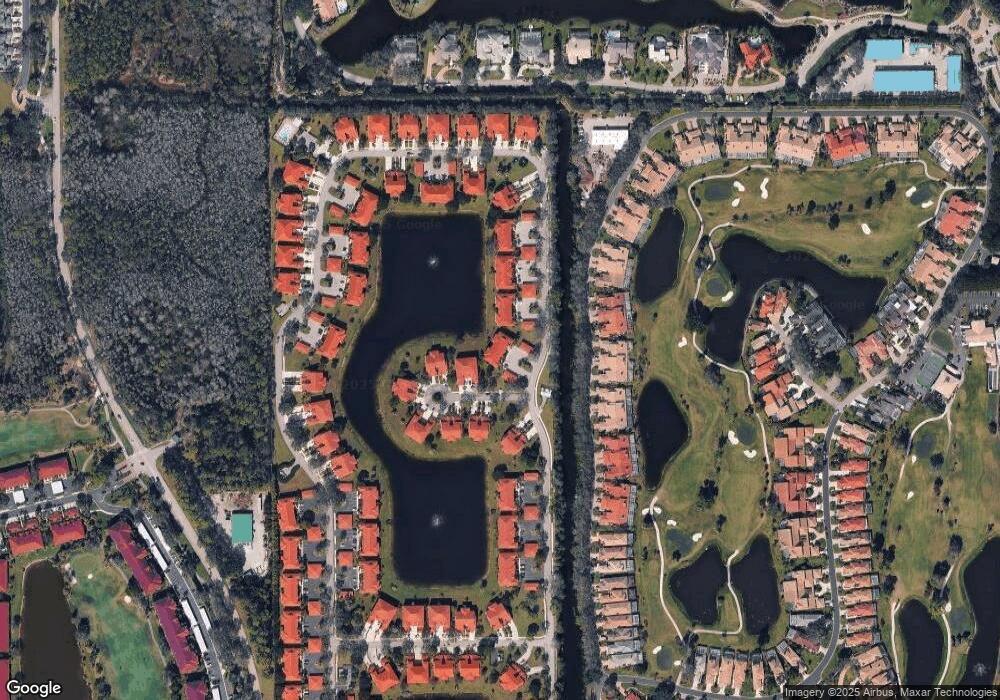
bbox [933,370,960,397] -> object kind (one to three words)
building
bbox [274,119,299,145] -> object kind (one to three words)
swimming pool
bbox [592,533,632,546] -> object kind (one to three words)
house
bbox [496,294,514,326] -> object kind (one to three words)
building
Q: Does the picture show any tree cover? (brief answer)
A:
Yes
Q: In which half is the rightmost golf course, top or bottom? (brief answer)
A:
bottom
